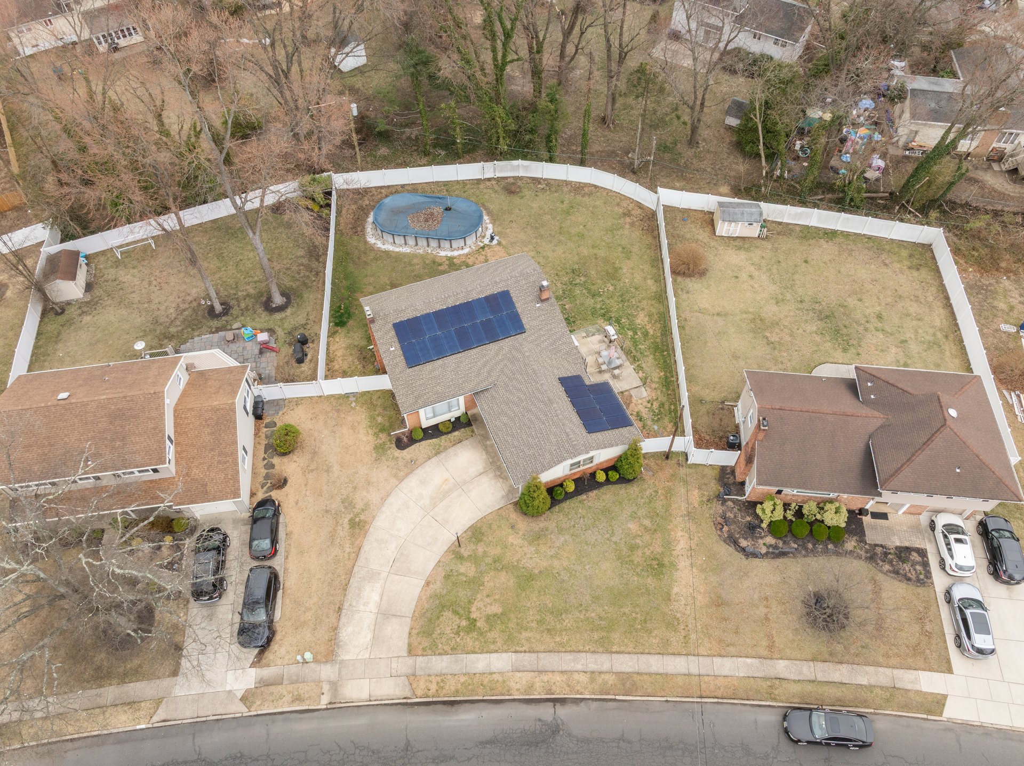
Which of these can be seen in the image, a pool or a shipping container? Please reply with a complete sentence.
Visible in the photo is a pool.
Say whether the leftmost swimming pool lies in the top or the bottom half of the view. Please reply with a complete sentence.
Seen from above, the leftmost swimming pool lies in the top half of the view.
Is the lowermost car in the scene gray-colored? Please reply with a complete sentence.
Yes, the lowermost car is indeed gray.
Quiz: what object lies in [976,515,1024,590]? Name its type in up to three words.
car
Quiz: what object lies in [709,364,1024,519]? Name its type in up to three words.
house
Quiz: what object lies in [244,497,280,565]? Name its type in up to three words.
car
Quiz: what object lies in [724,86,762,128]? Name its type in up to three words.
shed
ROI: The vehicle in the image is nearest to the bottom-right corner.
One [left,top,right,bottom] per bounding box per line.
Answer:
[946,582,998,661]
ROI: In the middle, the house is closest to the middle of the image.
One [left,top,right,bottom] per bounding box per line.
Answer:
[359,253,646,498]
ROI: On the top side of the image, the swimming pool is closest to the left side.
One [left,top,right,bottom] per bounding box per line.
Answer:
[367,195,487,249]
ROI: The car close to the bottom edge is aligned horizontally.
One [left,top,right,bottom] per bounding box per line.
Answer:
[781,707,875,757]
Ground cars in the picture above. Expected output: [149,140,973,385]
[244,497,280,565]
[781,707,875,757]
[236,564,282,650]
[189,527,230,602]
[976,515,1024,590]
[946,582,998,661]
[934,512,977,580]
